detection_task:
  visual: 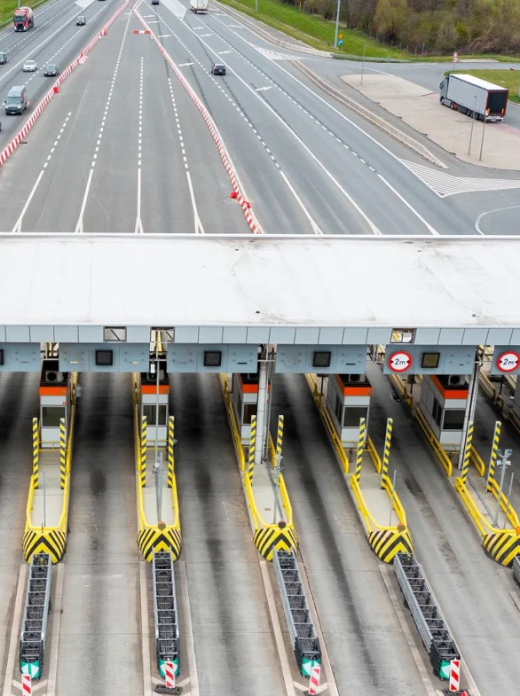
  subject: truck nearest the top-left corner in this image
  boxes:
[9,0,38,30]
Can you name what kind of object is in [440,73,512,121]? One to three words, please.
truck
